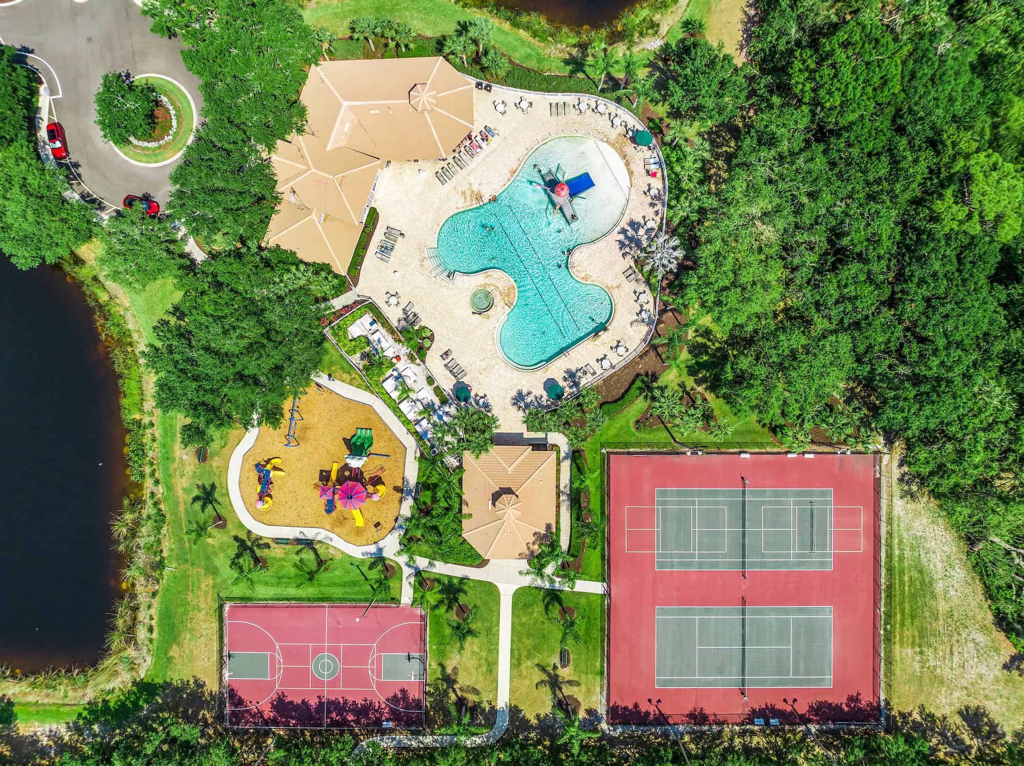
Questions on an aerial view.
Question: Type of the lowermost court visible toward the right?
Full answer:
The lowermost court visible toward the right is a tennis court.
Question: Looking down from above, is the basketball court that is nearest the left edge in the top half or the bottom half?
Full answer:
The basketball court that is nearest the left edge is in the bottom half of the image.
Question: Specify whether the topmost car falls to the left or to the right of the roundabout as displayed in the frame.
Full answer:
Relative to the roundabout, the topmost car is on the left.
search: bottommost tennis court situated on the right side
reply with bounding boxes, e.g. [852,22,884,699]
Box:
[656,607,833,688]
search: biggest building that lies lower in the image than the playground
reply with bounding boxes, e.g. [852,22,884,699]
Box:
[462,445,557,560]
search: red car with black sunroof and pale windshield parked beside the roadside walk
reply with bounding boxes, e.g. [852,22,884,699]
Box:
[48,123,70,158]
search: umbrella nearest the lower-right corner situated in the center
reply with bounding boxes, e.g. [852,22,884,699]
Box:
[547,383,564,400]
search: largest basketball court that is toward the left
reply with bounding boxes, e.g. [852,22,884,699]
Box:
[226,605,425,730]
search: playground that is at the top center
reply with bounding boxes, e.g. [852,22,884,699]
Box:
[535,166,595,225]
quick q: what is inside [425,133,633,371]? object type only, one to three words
swimming pool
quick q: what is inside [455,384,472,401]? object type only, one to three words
umbrella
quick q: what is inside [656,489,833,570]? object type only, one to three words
tennis court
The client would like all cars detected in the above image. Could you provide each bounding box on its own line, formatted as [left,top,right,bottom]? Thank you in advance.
[124,196,160,215]
[48,123,70,158]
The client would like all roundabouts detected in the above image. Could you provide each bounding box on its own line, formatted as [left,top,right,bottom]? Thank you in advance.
[103,72,198,167]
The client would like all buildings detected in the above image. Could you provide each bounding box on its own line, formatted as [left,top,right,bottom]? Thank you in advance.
[462,445,557,560]
[265,56,474,275]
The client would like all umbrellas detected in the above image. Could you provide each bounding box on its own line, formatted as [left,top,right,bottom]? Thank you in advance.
[547,383,564,400]
[636,129,652,146]
[455,384,472,401]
